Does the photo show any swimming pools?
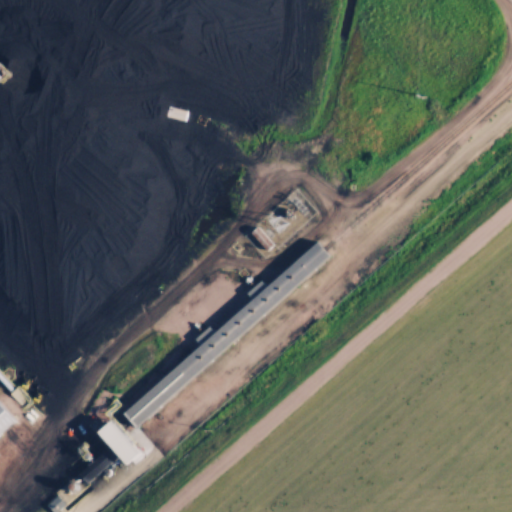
No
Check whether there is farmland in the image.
Yes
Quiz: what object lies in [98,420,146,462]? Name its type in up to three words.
building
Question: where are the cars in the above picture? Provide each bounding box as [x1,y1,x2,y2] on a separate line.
[78,426,86,434]
[100,356,108,364]
[472,96,480,104]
